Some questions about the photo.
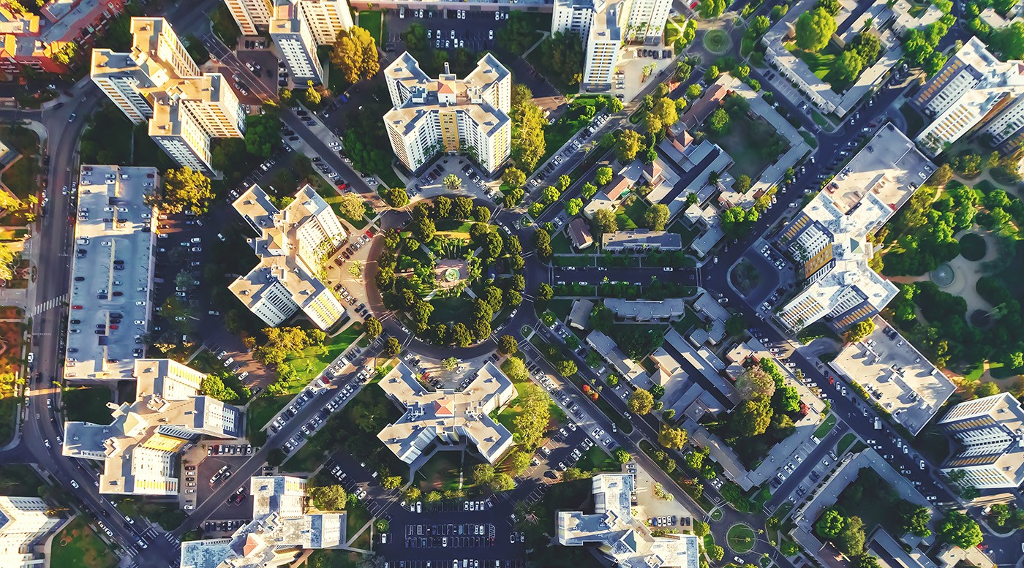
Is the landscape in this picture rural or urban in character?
urban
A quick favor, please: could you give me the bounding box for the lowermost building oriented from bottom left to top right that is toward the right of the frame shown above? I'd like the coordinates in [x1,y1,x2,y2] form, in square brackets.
[790,449,872,530]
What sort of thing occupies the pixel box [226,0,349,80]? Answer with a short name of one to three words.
building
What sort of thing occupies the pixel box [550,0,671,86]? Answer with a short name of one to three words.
building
